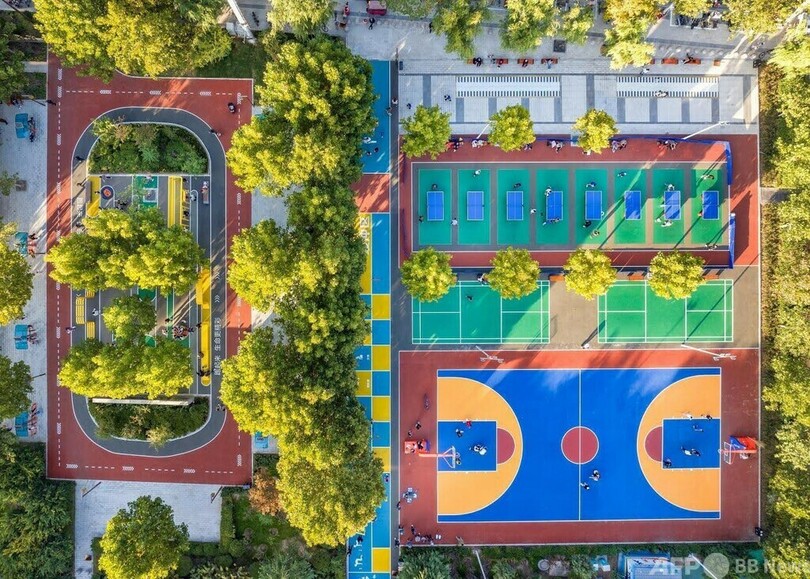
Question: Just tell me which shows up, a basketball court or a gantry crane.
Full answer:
There is a basketball court in the scene.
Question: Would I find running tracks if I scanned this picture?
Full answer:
Yes, the image includes a running track.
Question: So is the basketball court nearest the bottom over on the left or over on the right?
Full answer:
The basketball court nearest the bottom sits on the right side.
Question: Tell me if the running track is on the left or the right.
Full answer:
The running track appears in the left half of the scene.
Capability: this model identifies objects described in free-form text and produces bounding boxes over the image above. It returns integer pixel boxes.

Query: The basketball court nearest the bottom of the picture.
[391,348,758,547]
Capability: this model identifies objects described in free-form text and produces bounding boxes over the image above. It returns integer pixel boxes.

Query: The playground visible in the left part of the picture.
[85,174,210,396]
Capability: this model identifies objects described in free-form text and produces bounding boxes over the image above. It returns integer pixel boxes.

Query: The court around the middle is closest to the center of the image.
[412,281,551,344]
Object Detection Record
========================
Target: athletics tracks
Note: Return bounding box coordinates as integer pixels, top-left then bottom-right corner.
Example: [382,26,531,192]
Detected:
[47,44,253,489]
